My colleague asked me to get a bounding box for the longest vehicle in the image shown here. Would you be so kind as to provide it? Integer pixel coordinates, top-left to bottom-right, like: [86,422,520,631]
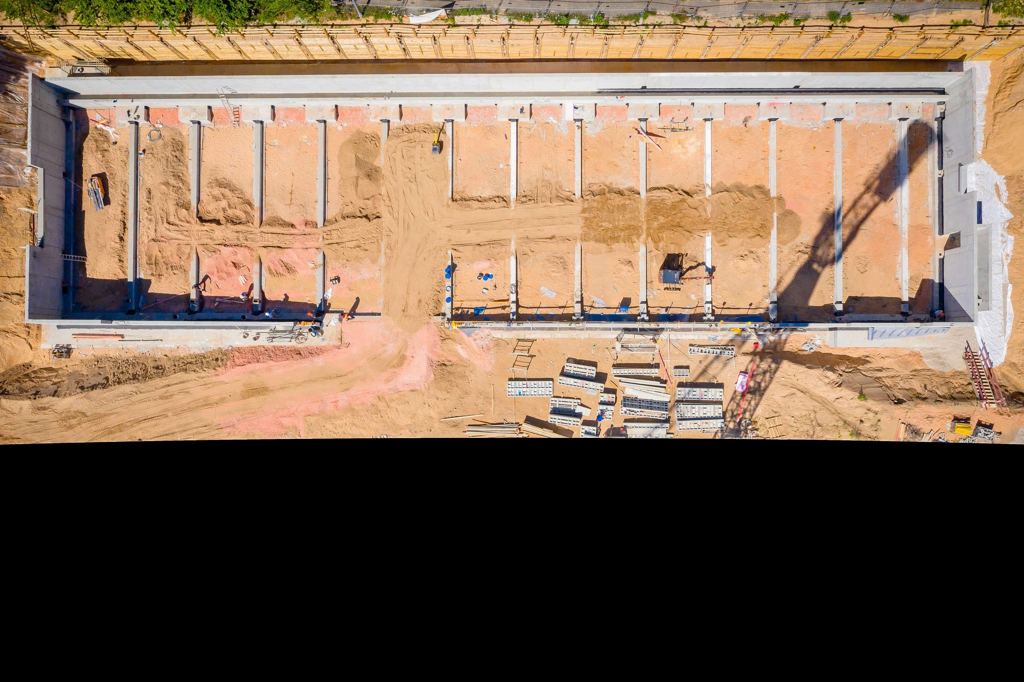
[655,267,713,293]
